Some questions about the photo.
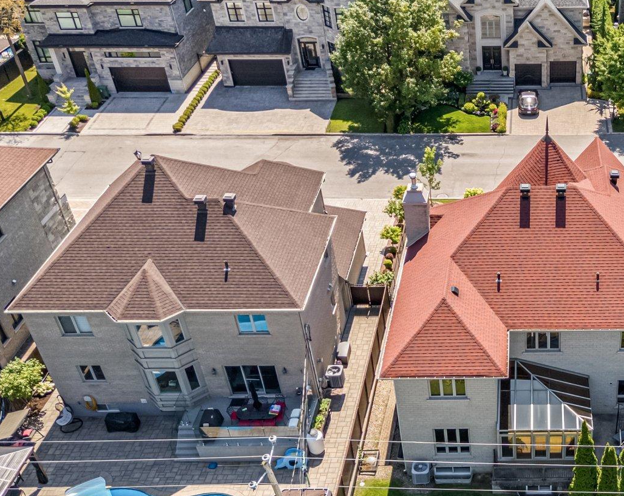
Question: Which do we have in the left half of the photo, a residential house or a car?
residential house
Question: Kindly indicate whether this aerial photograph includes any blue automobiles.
No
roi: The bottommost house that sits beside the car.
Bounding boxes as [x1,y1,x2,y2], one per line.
[376,119,624,496]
